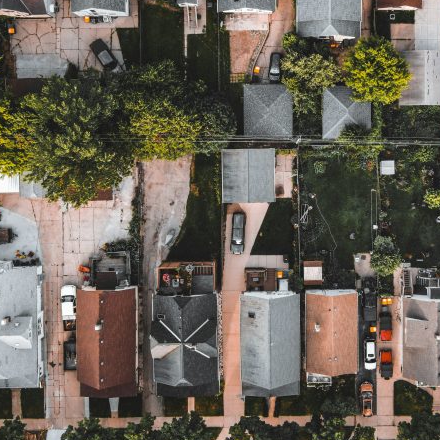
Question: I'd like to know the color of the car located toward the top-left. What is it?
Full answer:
In this view, the car located toward the top-left is black.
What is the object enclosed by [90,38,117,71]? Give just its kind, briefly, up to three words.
car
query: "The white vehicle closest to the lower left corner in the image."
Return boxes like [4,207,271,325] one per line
[58,284,76,330]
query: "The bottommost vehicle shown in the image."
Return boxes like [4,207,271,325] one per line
[360,380,374,418]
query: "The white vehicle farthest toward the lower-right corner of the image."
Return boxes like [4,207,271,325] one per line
[363,338,378,371]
